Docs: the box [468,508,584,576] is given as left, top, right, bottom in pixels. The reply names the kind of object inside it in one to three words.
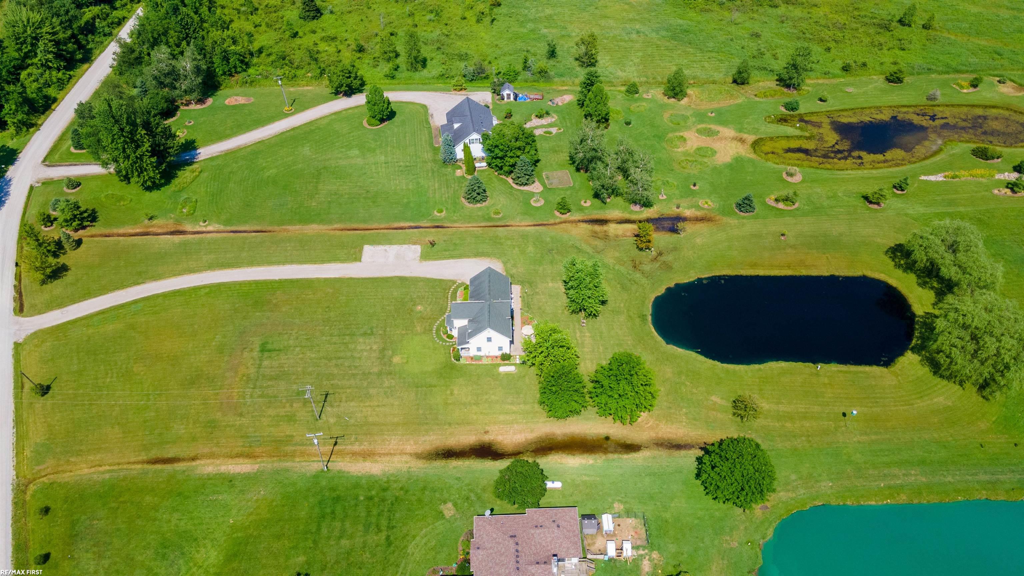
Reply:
house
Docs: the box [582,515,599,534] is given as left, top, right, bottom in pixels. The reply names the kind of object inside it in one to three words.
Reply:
shed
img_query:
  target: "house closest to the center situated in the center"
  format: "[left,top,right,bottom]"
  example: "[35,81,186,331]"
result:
[446,267,512,357]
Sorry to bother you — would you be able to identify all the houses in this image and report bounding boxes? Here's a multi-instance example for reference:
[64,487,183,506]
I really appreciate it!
[439,96,498,159]
[468,508,584,576]
[446,267,512,357]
